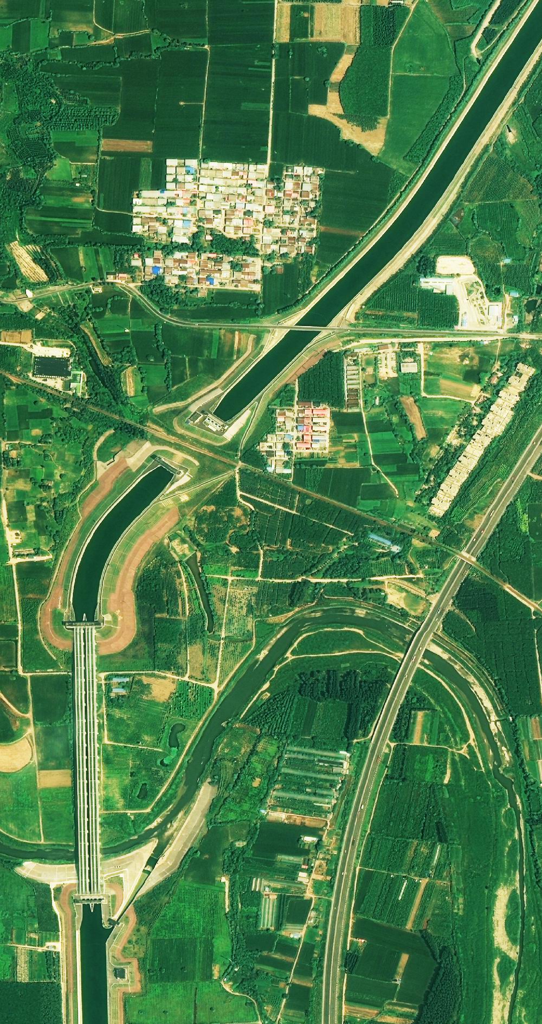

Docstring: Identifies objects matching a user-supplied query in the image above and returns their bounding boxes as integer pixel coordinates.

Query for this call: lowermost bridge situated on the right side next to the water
[400,623,434,678]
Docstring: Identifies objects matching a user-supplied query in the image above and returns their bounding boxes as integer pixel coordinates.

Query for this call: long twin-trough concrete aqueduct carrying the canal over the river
[74,625,101,896]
